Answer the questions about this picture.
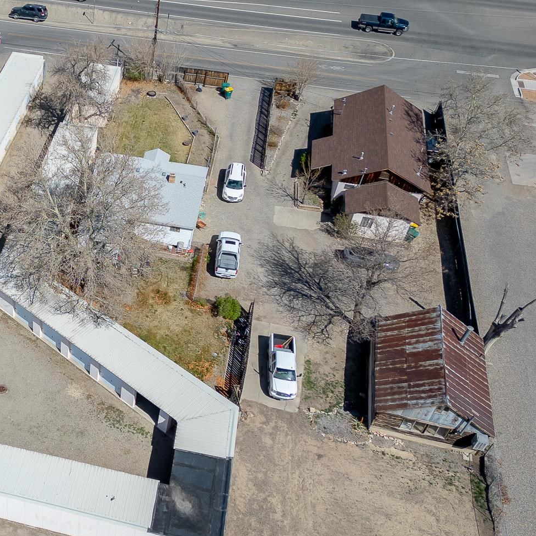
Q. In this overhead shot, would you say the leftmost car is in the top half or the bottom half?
top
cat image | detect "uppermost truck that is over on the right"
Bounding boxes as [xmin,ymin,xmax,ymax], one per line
[356,12,411,36]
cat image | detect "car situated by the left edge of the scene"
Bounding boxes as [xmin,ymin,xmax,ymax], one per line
[8,0,51,22]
